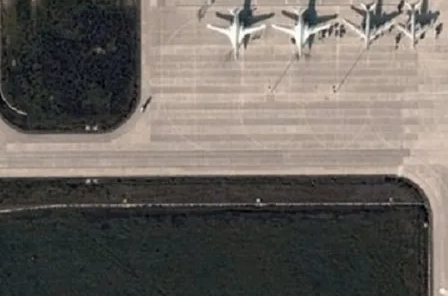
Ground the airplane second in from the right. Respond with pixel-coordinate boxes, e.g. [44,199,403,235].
[341,0,393,51]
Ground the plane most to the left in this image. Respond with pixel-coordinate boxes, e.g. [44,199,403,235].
[207,4,265,60]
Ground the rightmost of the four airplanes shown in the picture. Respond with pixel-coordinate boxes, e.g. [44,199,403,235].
[395,0,432,50]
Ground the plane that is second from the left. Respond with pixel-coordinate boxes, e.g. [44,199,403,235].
[272,4,329,60]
